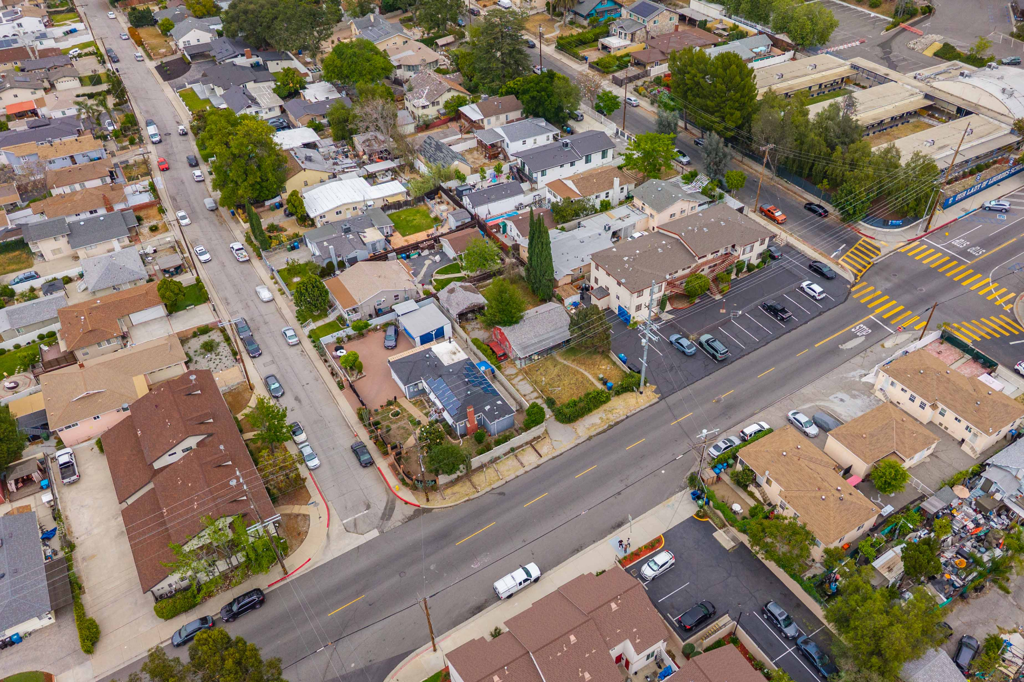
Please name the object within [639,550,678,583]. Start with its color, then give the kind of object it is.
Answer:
white car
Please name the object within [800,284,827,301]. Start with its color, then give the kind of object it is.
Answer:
white car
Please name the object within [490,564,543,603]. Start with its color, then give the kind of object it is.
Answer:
white truck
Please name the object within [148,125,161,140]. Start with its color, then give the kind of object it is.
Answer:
white vehicle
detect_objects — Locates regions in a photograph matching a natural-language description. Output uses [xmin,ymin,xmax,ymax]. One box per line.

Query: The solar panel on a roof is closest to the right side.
[630,1,658,16]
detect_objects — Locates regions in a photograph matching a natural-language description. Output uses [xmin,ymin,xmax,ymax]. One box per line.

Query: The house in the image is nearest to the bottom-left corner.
[0,507,81,652]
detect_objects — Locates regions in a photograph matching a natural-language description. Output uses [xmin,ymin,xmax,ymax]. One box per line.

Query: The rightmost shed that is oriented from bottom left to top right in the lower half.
[920,488,958,519]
